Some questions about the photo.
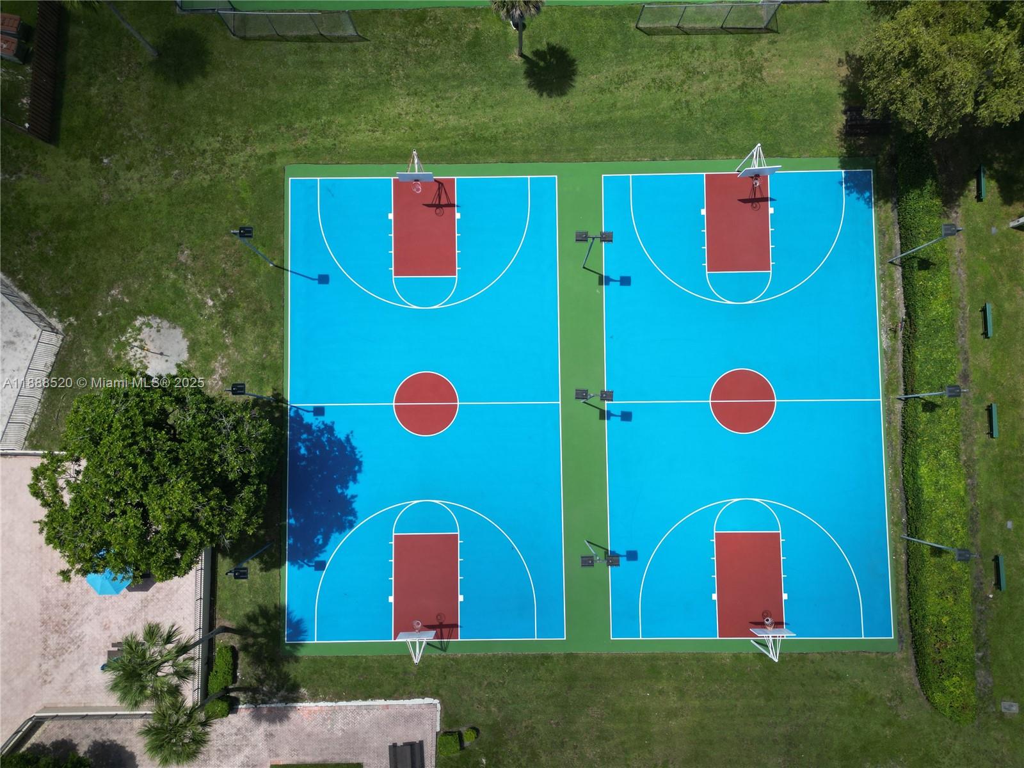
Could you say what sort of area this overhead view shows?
sports ground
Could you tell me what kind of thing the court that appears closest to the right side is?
basketball court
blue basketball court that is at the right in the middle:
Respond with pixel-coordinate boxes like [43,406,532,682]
[603,170,893,639]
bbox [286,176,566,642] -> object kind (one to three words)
basketball court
